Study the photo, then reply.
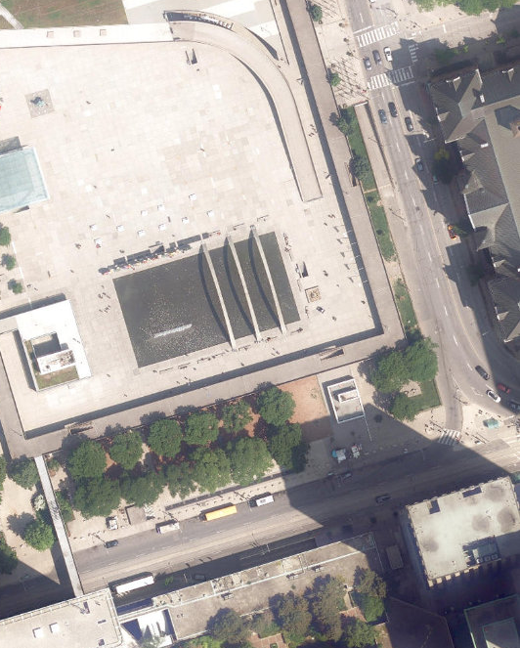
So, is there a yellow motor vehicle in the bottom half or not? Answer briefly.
Yes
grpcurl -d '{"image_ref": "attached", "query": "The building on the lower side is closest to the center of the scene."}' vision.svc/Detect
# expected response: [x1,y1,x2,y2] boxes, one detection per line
[325,377,373,440]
